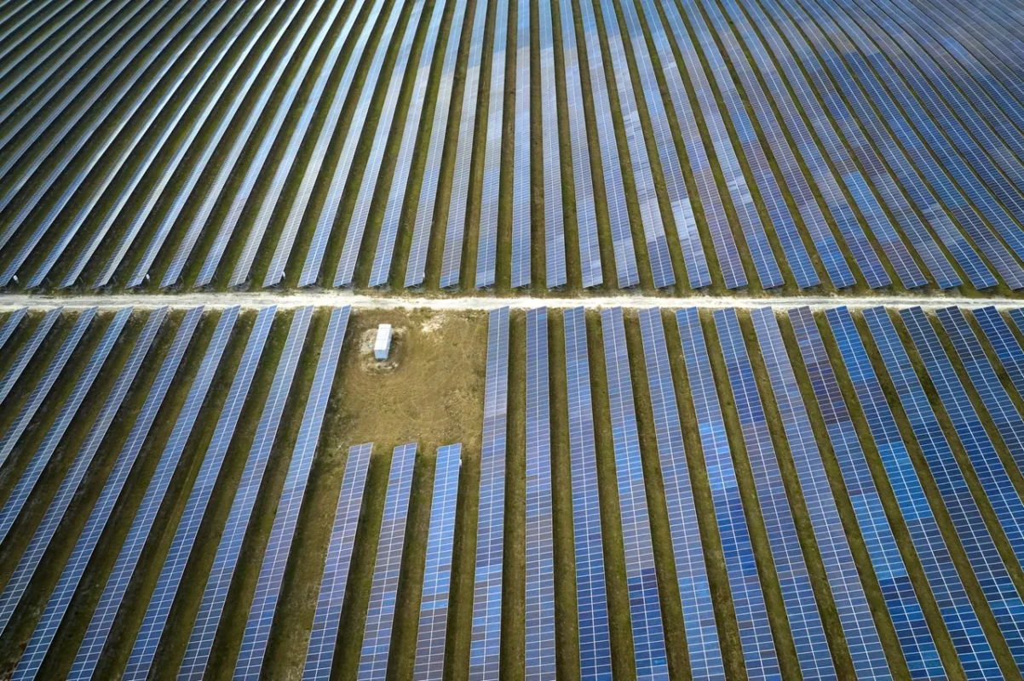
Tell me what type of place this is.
solar farm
